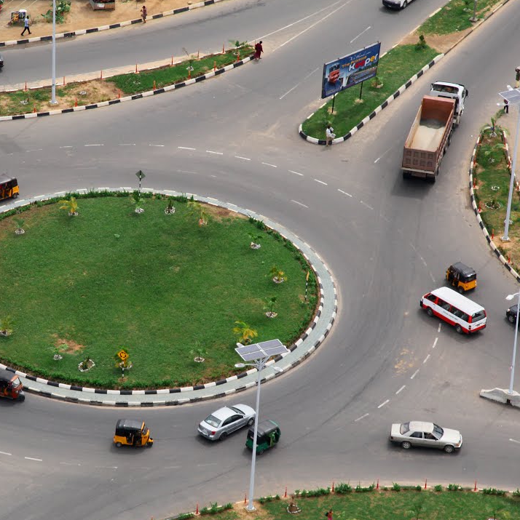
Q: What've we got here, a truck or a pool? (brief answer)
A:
truck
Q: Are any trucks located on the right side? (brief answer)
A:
Yes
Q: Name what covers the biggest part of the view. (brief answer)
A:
paved ground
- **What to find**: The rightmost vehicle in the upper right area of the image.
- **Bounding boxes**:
[402,86,462,176]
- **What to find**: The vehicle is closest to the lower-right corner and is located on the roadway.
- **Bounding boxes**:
[390,420,467,453]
